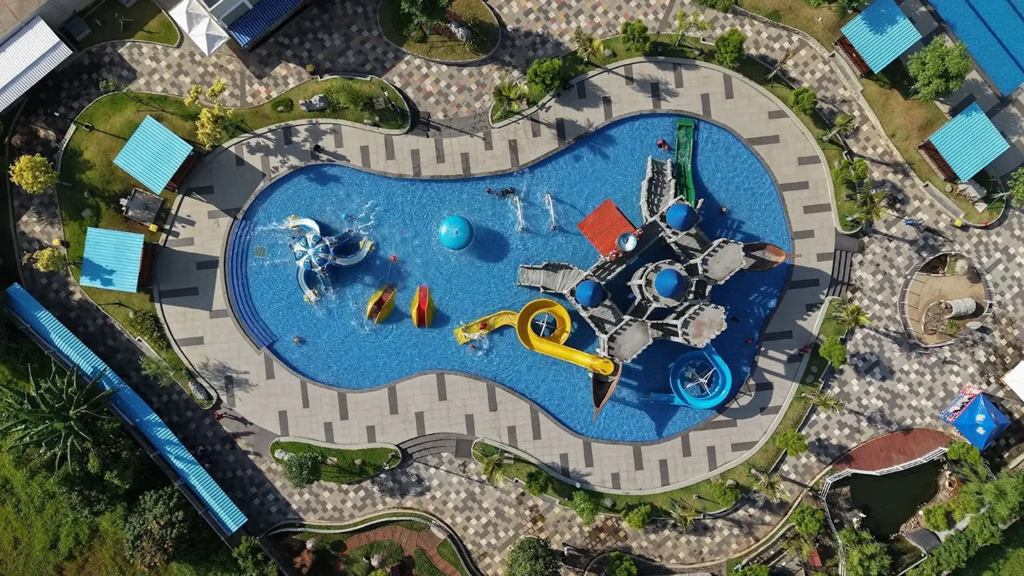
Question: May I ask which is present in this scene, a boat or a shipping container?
boat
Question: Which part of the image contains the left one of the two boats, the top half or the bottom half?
bottom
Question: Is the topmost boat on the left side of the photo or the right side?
right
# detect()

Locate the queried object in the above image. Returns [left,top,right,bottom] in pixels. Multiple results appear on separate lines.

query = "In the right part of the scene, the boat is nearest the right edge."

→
[744,242,802,271]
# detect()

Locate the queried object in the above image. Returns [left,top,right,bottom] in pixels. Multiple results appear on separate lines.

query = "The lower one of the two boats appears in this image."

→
[591,362,622,422]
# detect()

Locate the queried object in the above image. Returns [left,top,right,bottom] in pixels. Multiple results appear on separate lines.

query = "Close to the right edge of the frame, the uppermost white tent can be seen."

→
[967,349,1024,408]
